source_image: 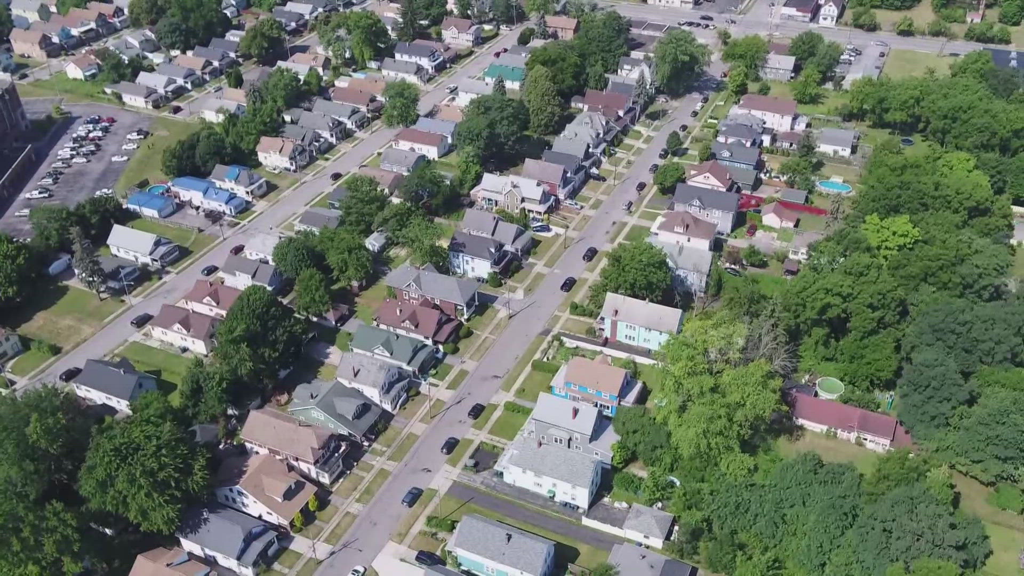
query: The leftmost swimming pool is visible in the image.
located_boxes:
[146,184,169,196]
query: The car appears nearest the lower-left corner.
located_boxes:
[57,363,81,384]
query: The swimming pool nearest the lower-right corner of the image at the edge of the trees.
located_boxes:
[815,377,845,399]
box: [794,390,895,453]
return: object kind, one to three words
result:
house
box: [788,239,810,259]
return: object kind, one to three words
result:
building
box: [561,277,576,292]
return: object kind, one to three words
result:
car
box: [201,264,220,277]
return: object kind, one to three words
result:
vehicle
